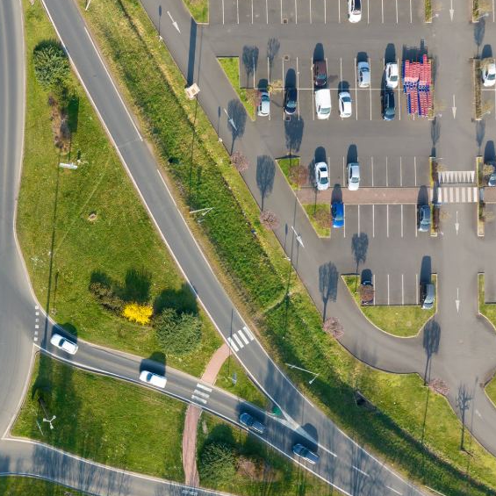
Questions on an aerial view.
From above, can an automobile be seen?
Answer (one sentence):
Yes, there's an automobile here.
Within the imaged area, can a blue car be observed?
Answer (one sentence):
Yes, a blue car is visible in the scene.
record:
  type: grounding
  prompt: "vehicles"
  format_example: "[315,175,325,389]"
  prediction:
[384,62,400,90]
[314,163,329,190]
[420,282,439,310]
[51,334,77,354]
[138,369,168,388]
[283,89,298,115]
[356,62,370,88]
[347,0,362,22]
[337,92,352,117]
[481,63,496,88]
[416,205,432,232]
[381,92,397,120]
[315,89,332,119]
[312,62,327,87]
[346,163,360,190]
[257,92,270,116]
[291,443,320,465]
[237,411,266,433]
[330,203,345,228]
